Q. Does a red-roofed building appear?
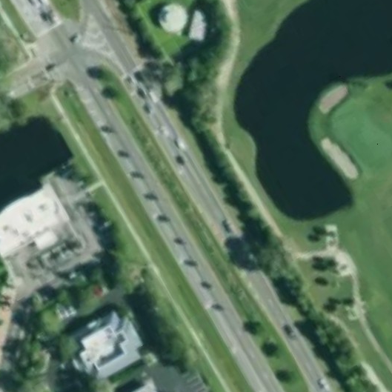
No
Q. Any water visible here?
Yes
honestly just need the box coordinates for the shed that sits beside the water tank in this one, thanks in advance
[188,10,205,42]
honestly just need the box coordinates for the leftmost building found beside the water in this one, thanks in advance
[0,183,69,258]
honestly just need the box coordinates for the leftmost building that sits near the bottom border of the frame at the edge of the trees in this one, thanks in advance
[68,312,143,379]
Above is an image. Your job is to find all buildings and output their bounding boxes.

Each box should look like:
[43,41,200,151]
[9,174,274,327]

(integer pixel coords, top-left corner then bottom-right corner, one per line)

[135,379,157,392]
[188,10,205,42]
[0,183,69,258]
[68,312,143,379]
